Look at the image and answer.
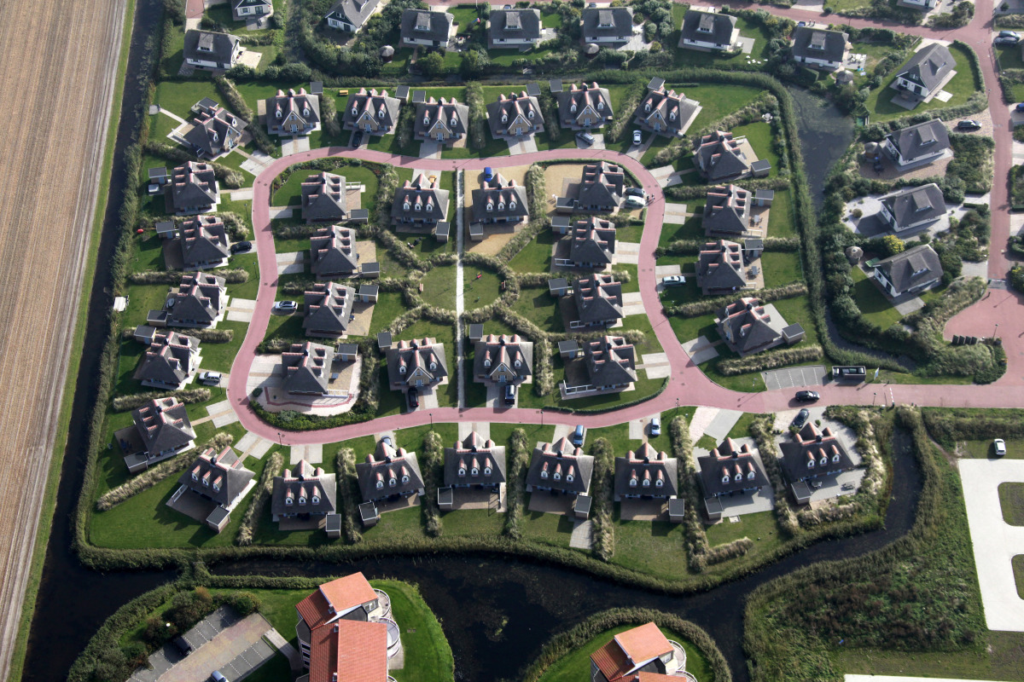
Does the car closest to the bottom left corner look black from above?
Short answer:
Yes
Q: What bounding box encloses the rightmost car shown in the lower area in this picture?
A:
[993,438,1008,458]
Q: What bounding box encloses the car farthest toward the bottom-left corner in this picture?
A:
[170,634,195,658]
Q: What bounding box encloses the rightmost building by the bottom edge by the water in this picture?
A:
[589,622,697,682]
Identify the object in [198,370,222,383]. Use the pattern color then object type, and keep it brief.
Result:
white vehicle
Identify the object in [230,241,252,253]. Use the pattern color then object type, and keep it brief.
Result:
black vehicle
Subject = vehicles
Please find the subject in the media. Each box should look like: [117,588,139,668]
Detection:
[573,425,584,446]
[959,119,980,129]
[797,18,806,29]
[503,0,512,9]
[999,29,1020,39]
[795,390,819,402]
[651,418,662,436]
[275,299,298,310]
[504,386,515,405]
[632,131,641,144]
[230,241,252,253]
[995,35,1016,45]
[170,634,195,658]
[380,431,395,449]
[1014,102,1024,111]
[626,187,644,196]
[792,409,807,429]
[198,370,222,383]
[407,389,418,408]
[209,671,227,682]
[425,174,441,183]
[352,129,361,147]
[483,166,493,181]
[575,129,596,143]
[993,438,1008,458]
